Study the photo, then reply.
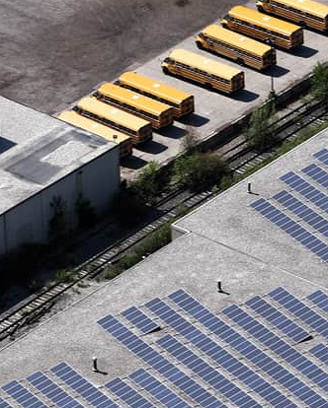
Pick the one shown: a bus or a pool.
bus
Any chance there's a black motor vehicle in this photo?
No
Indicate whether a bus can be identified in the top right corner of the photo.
Yes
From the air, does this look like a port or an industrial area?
industrial area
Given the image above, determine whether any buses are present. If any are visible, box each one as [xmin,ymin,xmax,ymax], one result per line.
[69,99,150,150]
[161,49,245,98]
[112,73,195,122]
[252,0,328,37]
[217,8,303,54]
[194,25,277,74]
[87,86,170,135]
